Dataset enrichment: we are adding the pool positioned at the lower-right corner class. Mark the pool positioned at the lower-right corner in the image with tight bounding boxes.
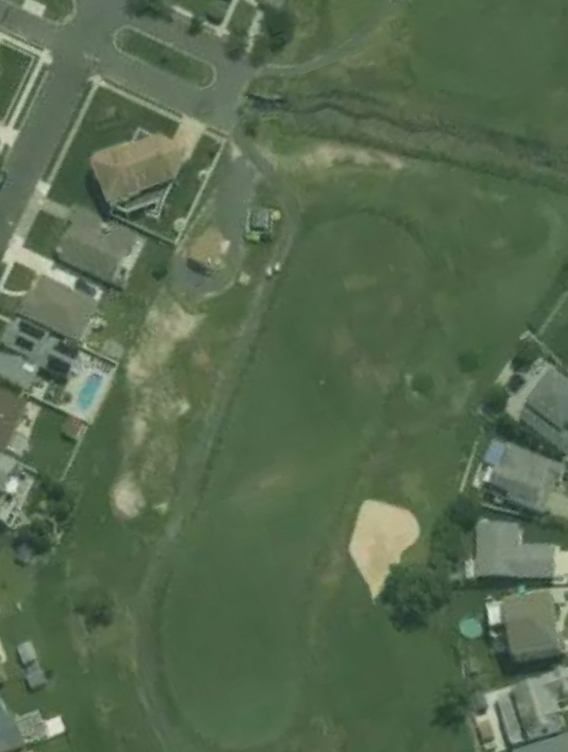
[459,615,483,639]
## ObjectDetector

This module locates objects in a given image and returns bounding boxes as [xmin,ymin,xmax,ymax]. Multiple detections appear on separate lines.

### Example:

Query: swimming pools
[459,615,483,639]
[76,369,107,411]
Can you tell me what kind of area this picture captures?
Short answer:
golf course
